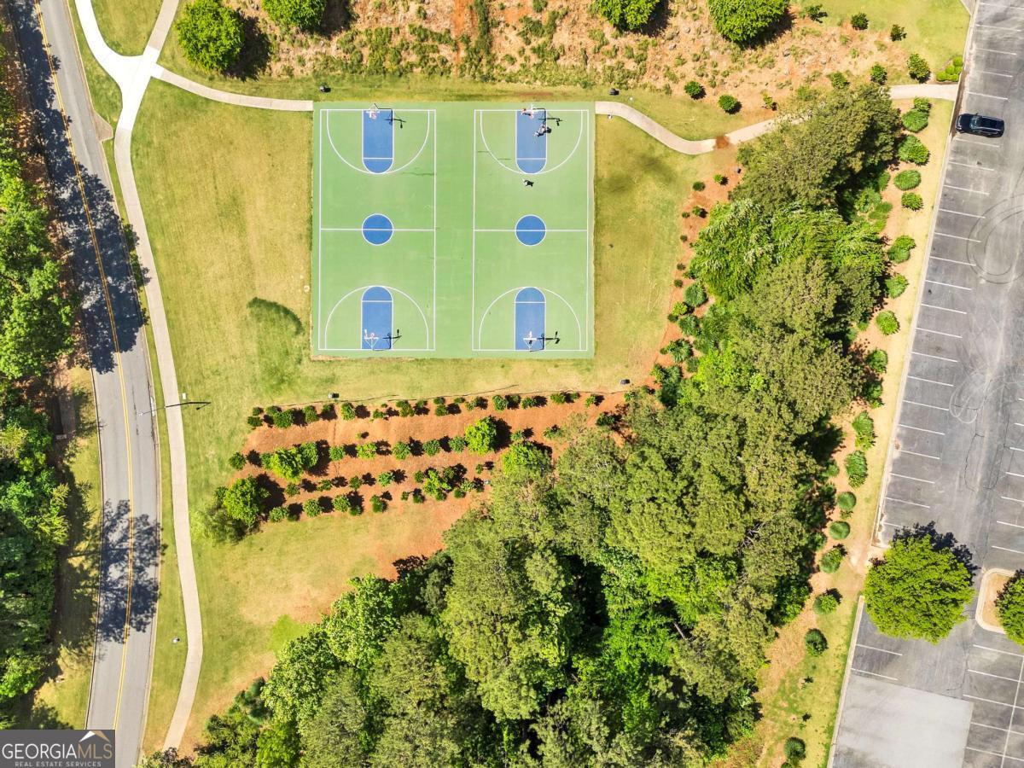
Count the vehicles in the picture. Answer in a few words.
1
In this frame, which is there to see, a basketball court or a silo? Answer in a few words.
basketball court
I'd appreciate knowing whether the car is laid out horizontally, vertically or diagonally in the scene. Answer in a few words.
horizontally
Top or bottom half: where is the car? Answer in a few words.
top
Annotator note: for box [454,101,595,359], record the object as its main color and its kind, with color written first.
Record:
green basketball court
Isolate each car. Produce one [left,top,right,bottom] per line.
[954,115,1003,138]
